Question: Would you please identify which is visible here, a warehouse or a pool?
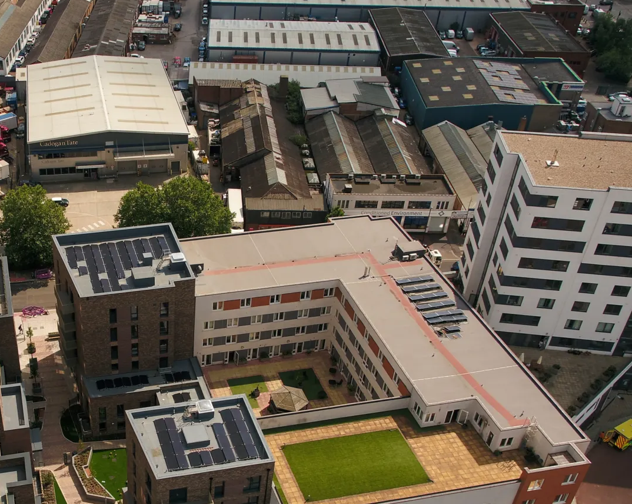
warehouse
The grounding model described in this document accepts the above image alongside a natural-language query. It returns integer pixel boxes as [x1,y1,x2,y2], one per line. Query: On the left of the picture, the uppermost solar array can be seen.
[66,237,168,293]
